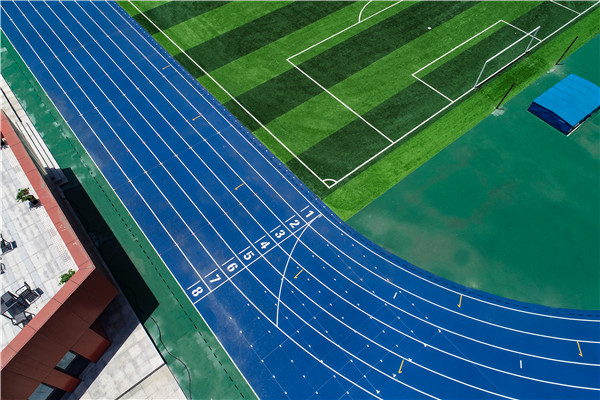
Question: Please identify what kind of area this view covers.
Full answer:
The picture captures a sports ground.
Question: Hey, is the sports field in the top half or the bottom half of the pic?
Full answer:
The sports field is in the top half of the image.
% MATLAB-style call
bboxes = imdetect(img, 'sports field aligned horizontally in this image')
[115,0,600,220]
